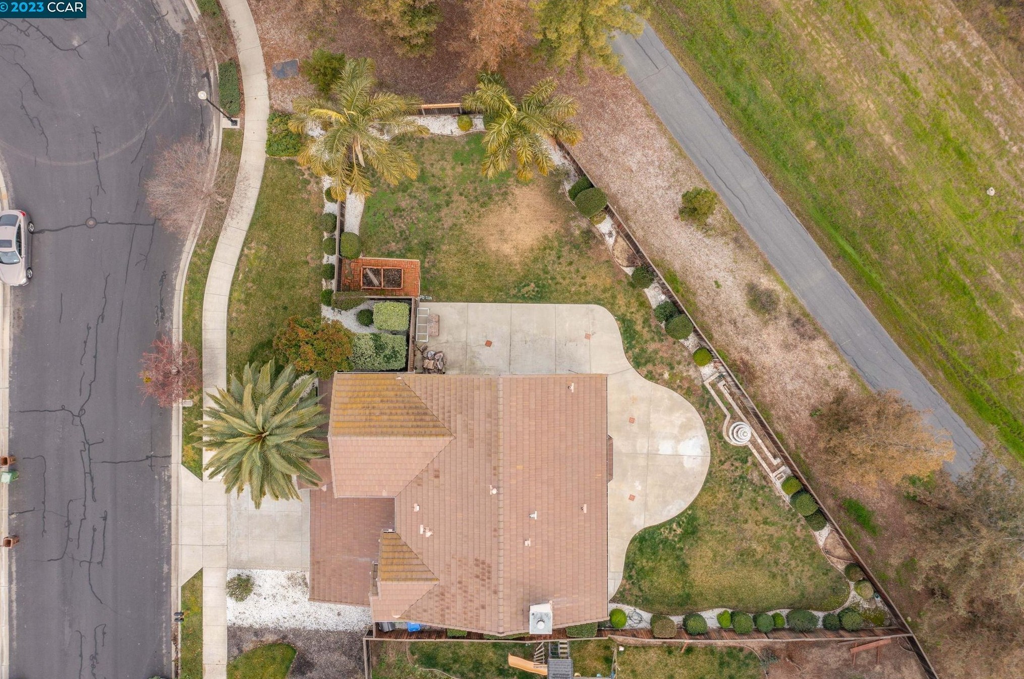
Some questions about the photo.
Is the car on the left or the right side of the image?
left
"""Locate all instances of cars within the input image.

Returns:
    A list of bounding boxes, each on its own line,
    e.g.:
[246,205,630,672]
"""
[0,209,34,286]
